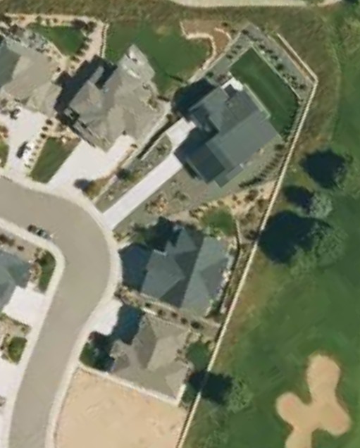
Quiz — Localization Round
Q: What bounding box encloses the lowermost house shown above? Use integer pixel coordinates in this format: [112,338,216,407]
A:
[103,307,192,402]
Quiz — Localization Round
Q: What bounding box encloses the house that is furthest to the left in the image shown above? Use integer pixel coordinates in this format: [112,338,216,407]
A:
[0,251,30,317]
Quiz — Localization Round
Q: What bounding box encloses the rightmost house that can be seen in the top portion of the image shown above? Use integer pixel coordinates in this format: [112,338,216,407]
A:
[183,87,276,187]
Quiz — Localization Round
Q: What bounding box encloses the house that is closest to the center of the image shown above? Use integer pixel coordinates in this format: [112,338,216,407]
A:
[135,221,231,316]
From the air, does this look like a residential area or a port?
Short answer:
residential area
